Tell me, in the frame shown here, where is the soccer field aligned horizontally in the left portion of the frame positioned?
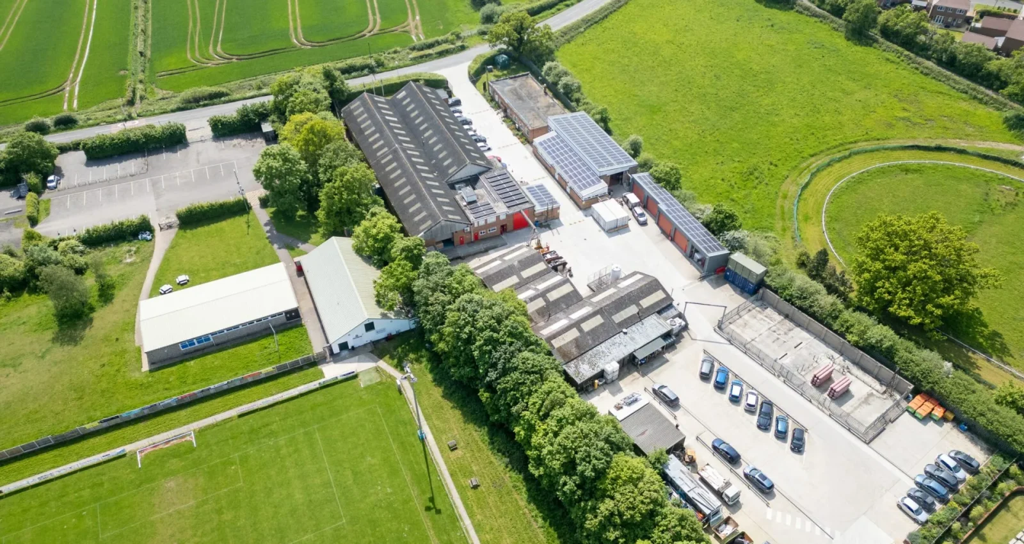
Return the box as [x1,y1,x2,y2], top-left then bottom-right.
[0,374,468,544]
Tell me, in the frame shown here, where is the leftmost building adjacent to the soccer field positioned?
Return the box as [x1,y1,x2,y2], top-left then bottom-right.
[140,262,300,371]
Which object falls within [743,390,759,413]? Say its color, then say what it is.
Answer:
white car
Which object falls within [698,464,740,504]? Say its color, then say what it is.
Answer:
white truck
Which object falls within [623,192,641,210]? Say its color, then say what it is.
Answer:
white vehicle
